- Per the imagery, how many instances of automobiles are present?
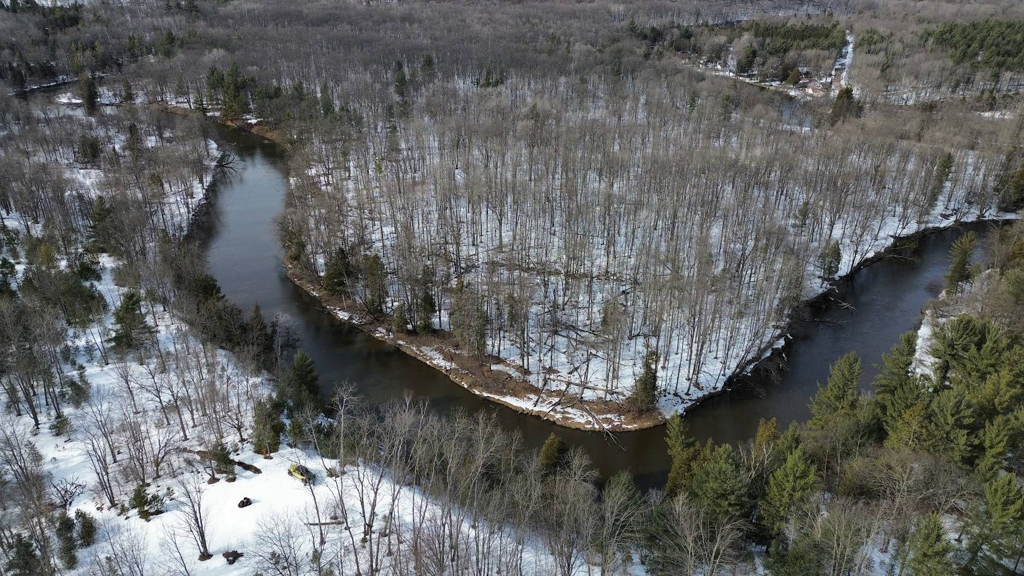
1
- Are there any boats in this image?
No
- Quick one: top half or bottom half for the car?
bottom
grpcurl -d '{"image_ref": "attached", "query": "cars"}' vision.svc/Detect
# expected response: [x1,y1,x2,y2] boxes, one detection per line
[287,464,315,484]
